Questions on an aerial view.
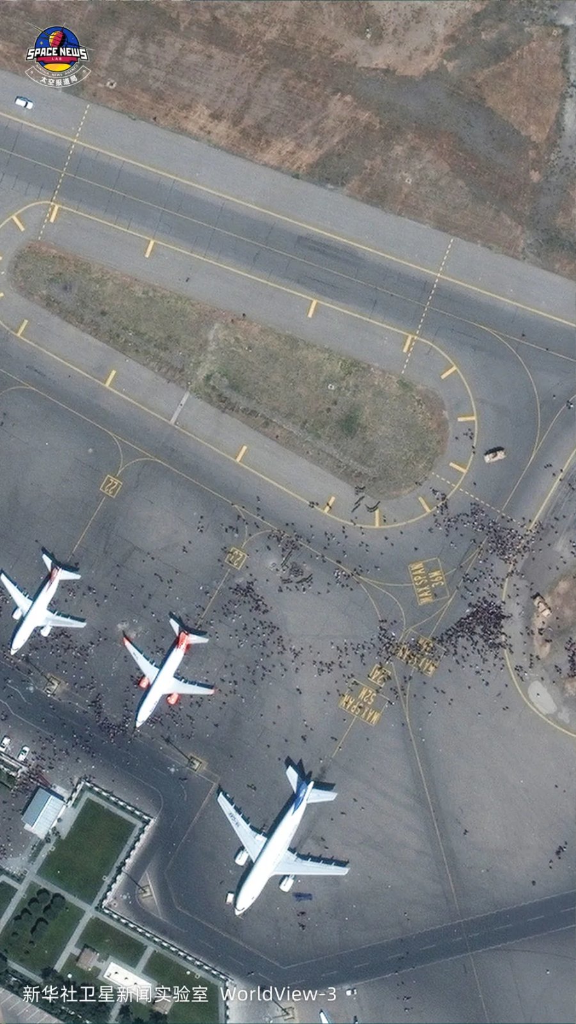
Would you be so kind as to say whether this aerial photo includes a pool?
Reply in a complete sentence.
No, I find no pool anywhere in the image.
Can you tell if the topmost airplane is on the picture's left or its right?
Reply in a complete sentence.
The topmost airplane is on the left side of the image.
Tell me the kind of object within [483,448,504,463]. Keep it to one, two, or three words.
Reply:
vehicle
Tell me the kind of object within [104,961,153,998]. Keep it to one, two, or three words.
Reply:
building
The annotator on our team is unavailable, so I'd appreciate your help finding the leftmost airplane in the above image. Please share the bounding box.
[3,552,84,654]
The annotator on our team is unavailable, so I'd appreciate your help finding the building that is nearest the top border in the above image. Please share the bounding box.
[22,787,68,840]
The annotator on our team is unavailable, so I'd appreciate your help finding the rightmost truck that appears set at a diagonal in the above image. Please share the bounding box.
[530,591,552,619]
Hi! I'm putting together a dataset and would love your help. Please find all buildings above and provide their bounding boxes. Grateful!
[154,994,173,1014]
[22,787,68,840]
[77,948,97,970]
[104,961,153,998]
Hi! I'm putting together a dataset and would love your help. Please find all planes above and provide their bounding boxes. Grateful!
[316,1010,330,1024]
[3,552,84,654]
[219,766,348,916]
[122,616,213,728]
